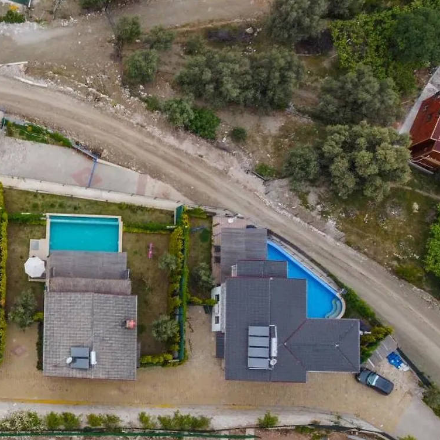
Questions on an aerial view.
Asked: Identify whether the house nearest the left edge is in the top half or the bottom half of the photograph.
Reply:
bottom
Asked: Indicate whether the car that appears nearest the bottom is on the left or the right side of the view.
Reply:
right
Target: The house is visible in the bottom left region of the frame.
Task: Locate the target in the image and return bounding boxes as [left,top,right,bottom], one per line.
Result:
[40,278,140,381]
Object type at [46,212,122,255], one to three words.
swimming pool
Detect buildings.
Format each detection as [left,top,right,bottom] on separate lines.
[409,93,440,172]
[40,278,140,381]
[208,260,361,383]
